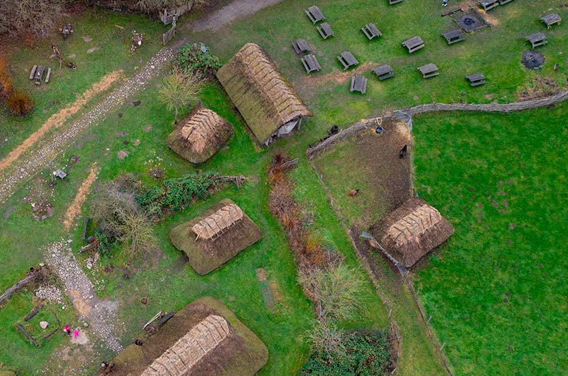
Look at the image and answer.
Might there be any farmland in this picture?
Yes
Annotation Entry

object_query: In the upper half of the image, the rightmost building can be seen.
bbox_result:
[216,43,314,151]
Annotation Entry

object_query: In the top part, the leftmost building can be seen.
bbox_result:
[167,102,235,167]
